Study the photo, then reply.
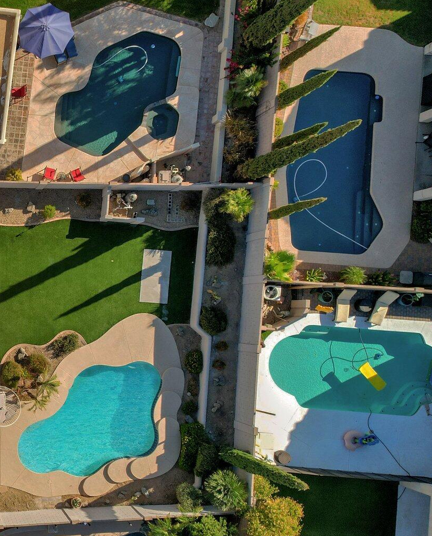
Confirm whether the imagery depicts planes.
No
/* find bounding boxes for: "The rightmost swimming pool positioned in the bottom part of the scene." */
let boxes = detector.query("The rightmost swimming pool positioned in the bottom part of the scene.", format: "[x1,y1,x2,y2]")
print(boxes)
[267,324,432,417]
